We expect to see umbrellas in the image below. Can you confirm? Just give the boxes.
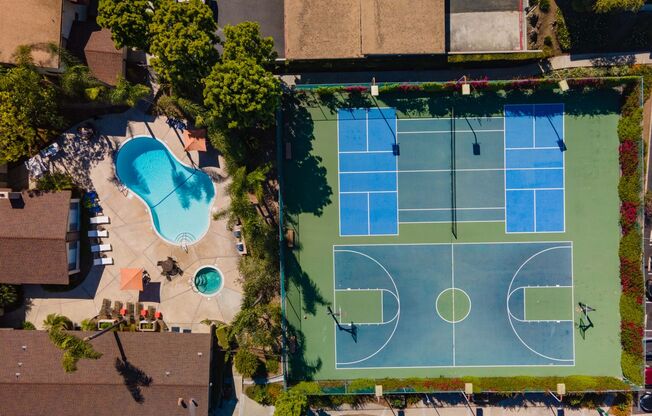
[185,129,207,151]
[121,269,143,290]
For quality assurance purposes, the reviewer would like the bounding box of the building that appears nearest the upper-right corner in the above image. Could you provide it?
[285,0,445,65]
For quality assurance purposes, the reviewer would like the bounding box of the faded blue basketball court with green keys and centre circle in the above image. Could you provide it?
[333,241,575,368]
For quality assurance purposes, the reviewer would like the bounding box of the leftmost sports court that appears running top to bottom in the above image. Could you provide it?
[337,107,398,236]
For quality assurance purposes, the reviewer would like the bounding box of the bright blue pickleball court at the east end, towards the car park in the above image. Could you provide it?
[504,103,565,233]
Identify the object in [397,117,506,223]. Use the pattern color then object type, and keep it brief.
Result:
blue tennis court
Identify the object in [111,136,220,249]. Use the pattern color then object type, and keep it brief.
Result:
blue swimming pool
